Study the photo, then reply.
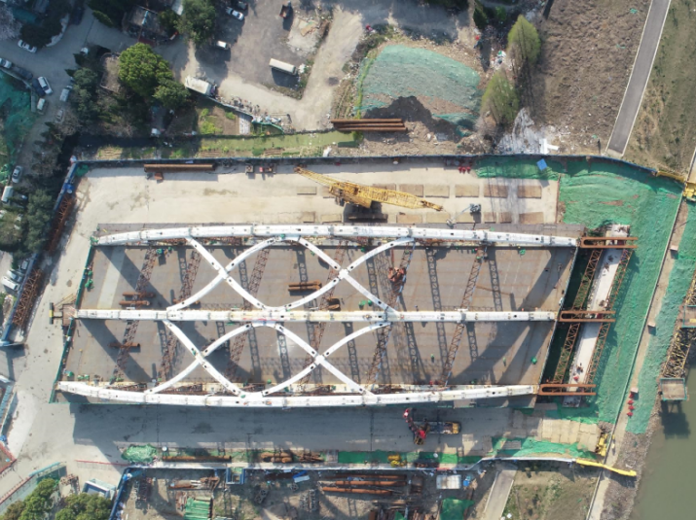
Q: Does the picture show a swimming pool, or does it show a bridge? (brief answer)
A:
bridge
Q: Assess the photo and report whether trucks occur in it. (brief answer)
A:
Yes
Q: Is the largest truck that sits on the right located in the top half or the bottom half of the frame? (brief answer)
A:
bottom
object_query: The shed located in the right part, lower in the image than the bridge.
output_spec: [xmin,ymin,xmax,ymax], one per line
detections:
[436,474,462,490]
